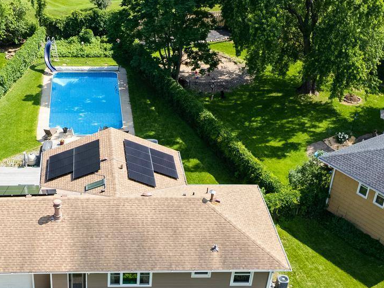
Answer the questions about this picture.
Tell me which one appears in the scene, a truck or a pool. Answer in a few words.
pool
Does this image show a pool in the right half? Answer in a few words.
No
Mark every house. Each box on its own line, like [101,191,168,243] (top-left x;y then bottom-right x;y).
[0,127,294,288]
[317,134,384,241]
